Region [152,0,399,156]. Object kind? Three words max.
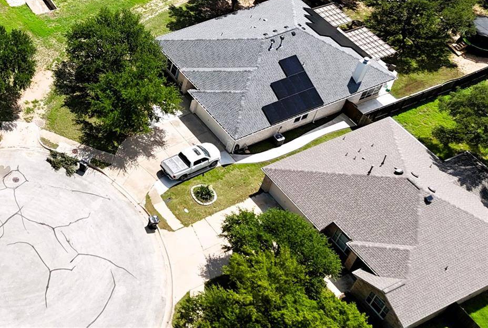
house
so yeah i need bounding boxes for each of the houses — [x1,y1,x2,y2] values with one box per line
[258,116,488,328]
[152,0,399,156]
